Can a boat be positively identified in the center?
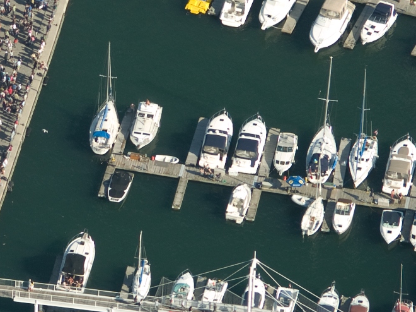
Yes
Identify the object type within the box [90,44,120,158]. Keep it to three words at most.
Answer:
boat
